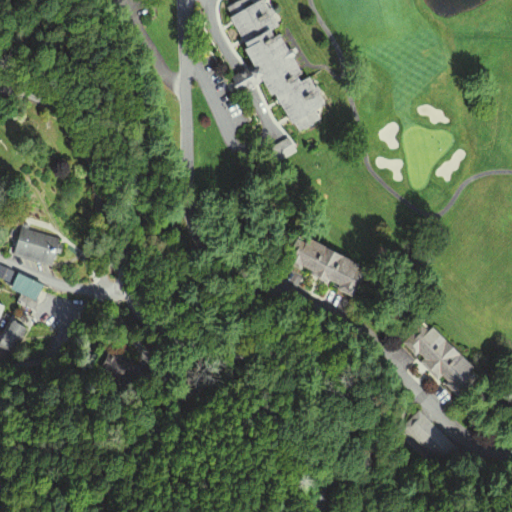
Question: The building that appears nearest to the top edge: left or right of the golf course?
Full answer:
In the image, the building that appears nearest to the top edge sits on the left side of the golf course.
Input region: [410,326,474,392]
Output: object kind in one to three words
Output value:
house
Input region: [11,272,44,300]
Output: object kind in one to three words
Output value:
building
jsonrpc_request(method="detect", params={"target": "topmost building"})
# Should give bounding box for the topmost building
[222,0,326,132]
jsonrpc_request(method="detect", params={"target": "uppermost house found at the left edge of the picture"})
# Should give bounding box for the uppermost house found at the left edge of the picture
[13,226,62,262]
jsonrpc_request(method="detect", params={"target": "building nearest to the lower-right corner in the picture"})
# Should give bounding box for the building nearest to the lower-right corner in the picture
[405,412,461,464]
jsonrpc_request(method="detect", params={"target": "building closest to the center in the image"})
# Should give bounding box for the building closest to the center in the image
[294,240,364,298]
